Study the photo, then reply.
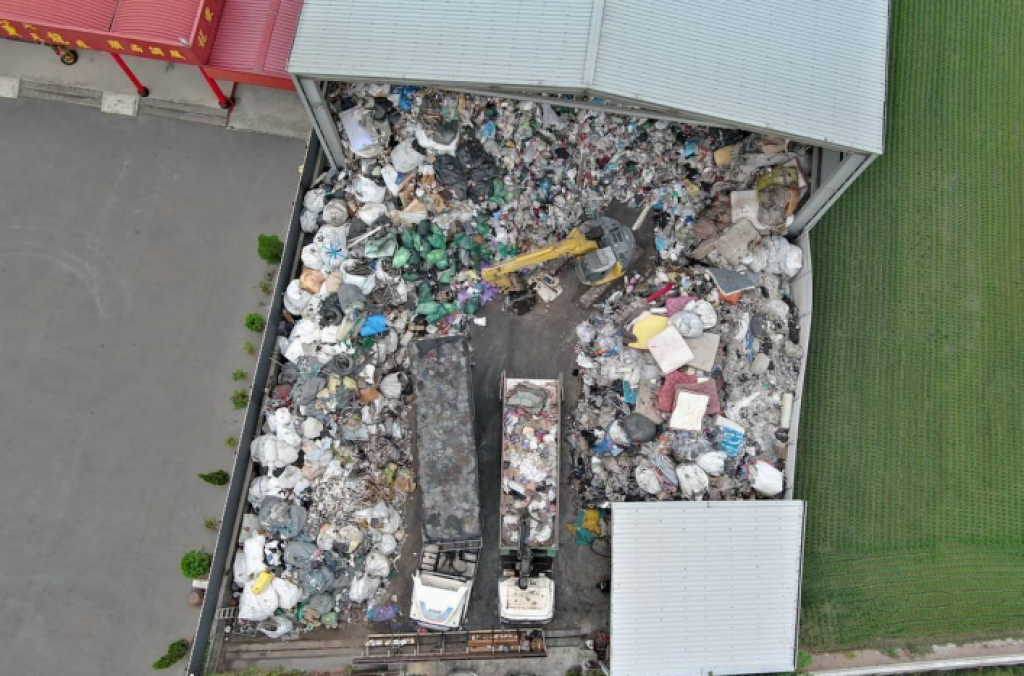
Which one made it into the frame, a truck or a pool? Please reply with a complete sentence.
Visible in the photo is a truck.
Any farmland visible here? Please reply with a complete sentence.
Yes, the picture does contain farmland.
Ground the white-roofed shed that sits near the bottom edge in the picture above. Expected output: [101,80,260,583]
[603,500,809,676]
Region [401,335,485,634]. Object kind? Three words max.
truck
